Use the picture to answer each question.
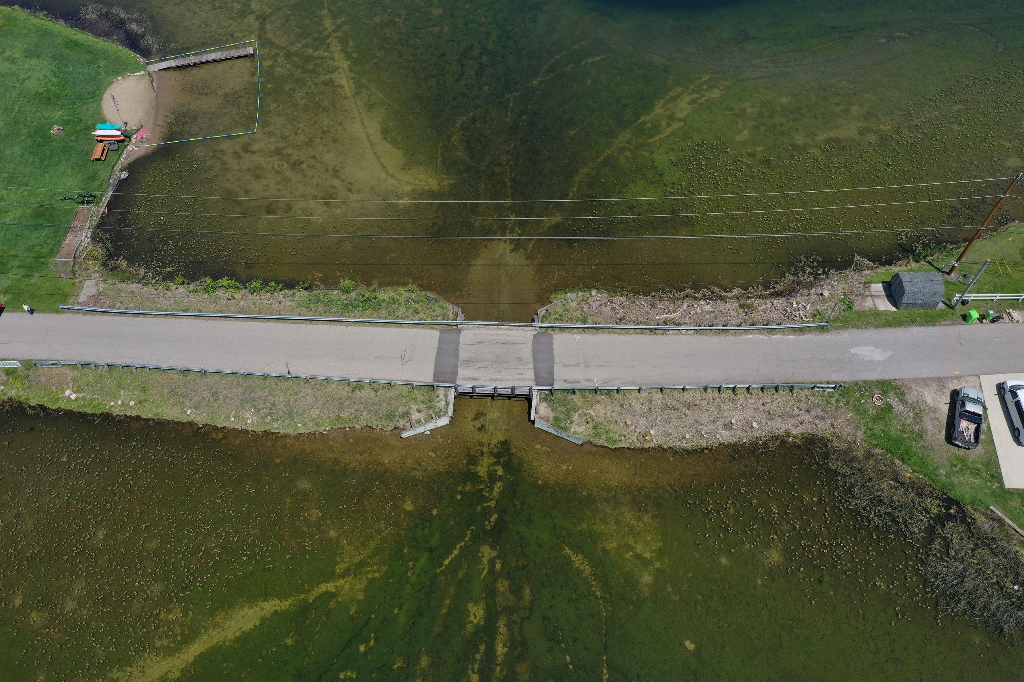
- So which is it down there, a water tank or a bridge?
bridge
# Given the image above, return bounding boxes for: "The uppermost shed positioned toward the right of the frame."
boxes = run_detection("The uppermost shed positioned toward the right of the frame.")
[885,272,945,309]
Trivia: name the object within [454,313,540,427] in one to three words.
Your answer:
bridge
